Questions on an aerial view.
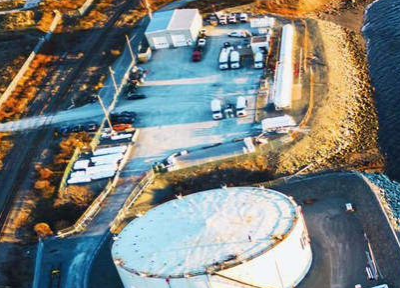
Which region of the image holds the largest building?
top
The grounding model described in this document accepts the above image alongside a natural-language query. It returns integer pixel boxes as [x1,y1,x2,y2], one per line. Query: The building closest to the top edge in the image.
[147,8,196,49]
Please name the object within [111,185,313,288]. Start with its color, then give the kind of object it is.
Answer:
white storage tank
